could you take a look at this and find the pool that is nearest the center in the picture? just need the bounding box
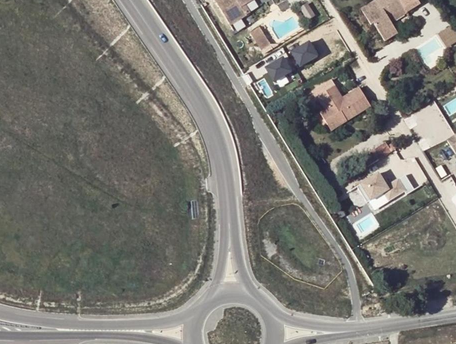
[256,78,274,100]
